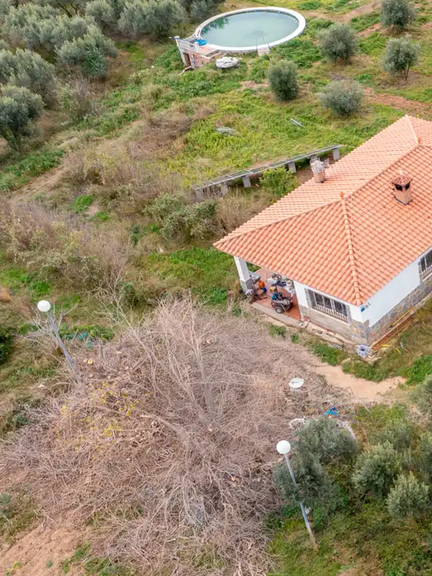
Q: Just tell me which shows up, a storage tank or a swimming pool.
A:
swimming pool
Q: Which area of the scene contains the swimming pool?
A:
top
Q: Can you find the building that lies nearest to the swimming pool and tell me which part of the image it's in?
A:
top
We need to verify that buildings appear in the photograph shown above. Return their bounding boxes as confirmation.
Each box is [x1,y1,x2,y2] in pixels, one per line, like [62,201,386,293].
[213,113,432,348]
[159,24,223,65]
